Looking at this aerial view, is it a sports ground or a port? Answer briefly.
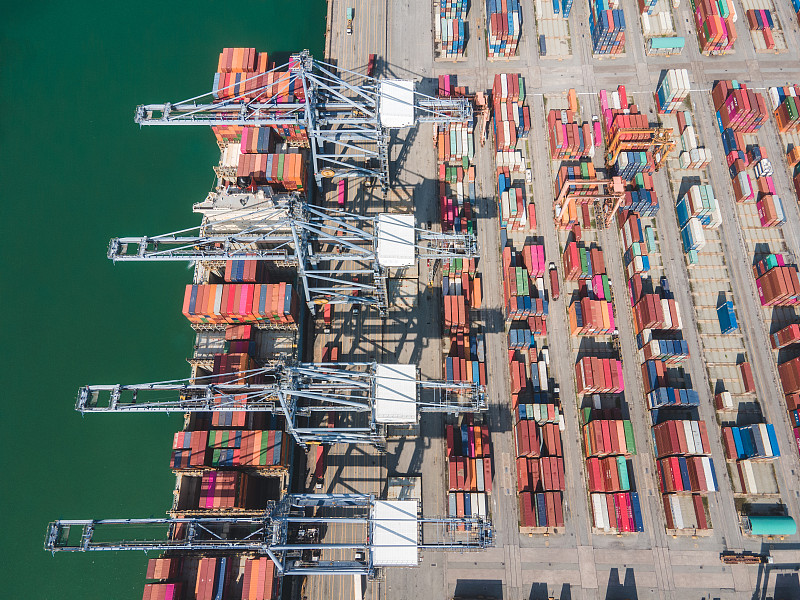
port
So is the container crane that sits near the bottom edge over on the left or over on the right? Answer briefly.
left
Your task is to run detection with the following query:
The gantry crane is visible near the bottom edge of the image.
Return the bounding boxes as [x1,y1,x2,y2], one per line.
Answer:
[42,482,496,588]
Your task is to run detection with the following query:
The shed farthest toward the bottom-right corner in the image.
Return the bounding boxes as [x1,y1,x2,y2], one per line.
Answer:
[738,514,797,535]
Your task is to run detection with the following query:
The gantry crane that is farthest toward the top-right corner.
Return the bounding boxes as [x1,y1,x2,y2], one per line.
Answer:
[604,122,677,169]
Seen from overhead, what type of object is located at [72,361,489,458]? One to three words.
container crane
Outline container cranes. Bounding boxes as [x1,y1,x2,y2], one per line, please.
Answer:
[134,48,473,202]
[552,177,623,223]
[604,122,677,169]
[42,482,496,588]
[104,195,481,324]
[431,92,488,141]
[72,361,489,458]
